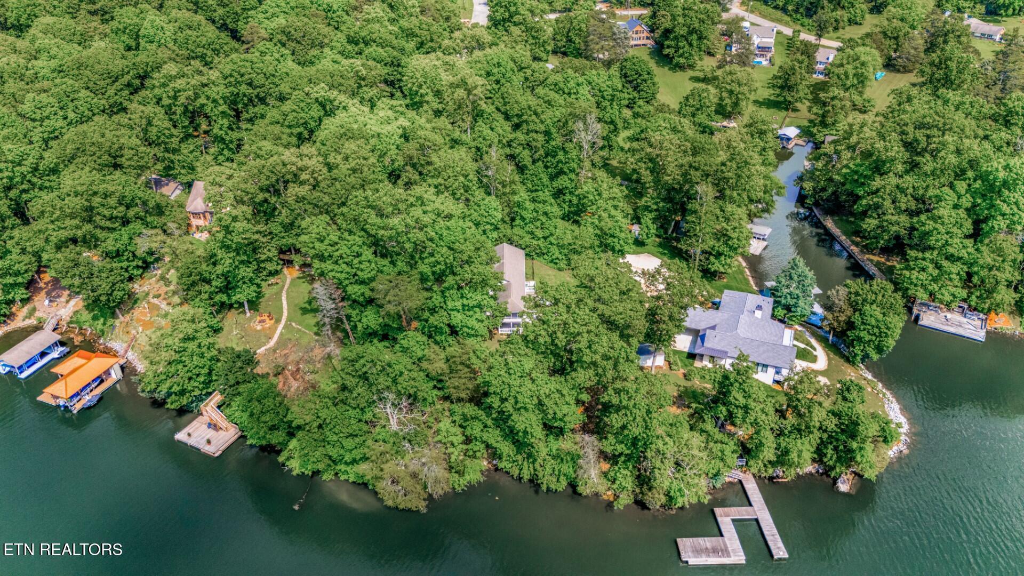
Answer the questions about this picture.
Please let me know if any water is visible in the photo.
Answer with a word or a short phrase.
Yes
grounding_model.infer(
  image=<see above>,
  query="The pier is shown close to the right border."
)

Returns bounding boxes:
[912,299,988,345]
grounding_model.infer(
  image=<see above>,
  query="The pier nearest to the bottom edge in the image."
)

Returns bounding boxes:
[677,471,790,567]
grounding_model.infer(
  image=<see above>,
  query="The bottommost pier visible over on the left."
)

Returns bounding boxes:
[173,415,246,465]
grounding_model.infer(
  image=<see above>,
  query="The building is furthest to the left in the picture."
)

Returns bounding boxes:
[0,330,75,380]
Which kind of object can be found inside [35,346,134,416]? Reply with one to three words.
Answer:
building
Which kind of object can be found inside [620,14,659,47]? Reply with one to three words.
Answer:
house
